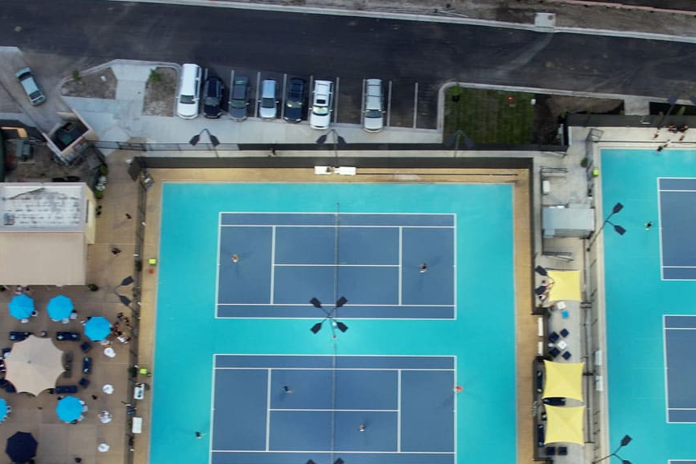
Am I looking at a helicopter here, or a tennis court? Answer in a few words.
tennis court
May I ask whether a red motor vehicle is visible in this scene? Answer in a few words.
No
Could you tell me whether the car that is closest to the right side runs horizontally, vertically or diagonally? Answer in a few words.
vertically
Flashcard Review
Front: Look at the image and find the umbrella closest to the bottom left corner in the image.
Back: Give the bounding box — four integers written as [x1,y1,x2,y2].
[7,431,40,462]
